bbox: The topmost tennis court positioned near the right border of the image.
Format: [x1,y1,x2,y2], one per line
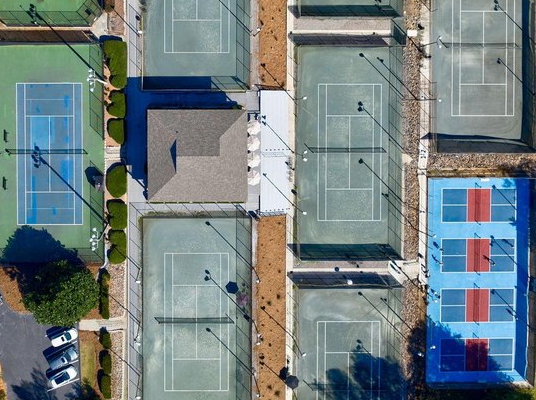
[432,0,534,153]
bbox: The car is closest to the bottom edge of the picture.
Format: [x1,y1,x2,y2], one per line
[49,367,78,387]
